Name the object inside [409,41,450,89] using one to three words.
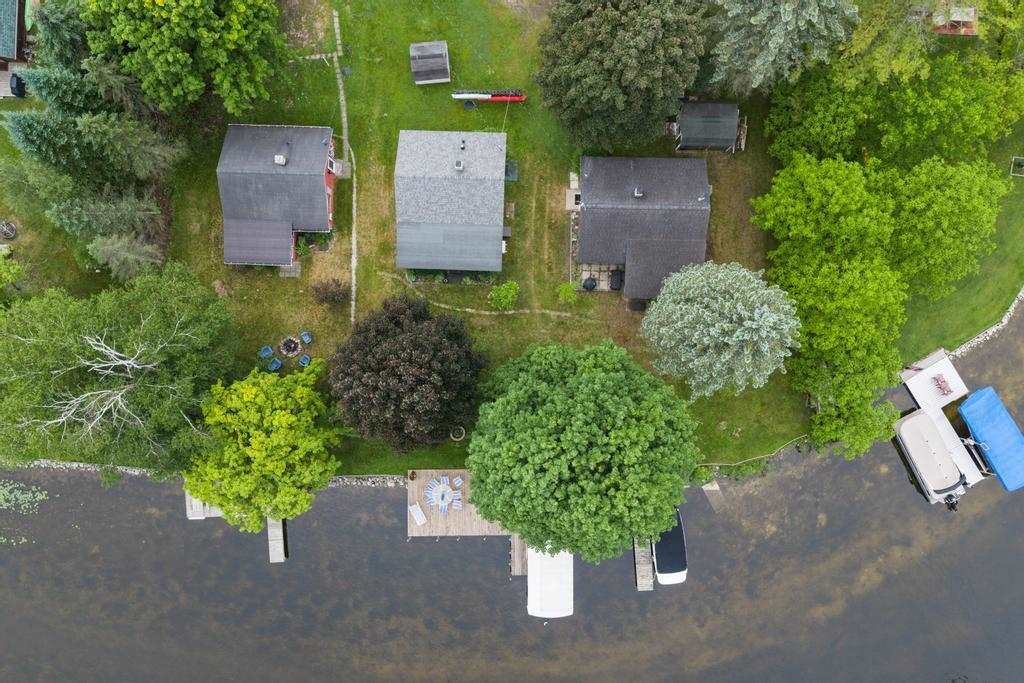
shed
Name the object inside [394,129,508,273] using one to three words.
house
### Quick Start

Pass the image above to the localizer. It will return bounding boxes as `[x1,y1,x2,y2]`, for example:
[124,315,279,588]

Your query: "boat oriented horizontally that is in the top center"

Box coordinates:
[451,88,525,101]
